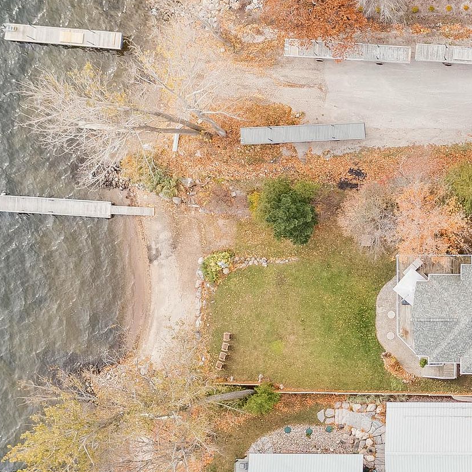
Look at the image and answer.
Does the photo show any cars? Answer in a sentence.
No, this view has no car in it.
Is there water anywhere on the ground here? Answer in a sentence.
Yes, there is water in the image.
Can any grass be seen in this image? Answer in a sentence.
Yes, there's grass in this view.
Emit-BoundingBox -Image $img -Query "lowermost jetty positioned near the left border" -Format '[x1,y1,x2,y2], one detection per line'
[0,196,112,217]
